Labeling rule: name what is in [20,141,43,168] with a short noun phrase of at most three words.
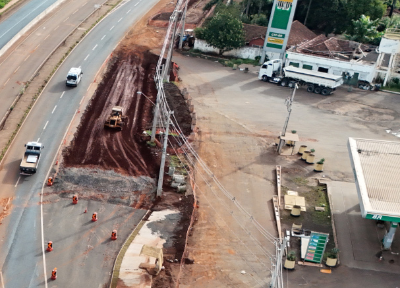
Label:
truck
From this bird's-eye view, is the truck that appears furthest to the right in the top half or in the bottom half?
top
